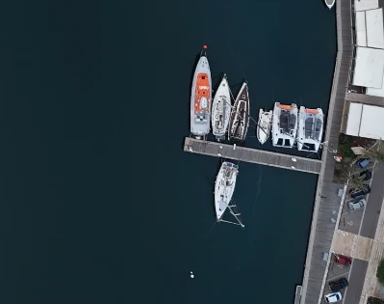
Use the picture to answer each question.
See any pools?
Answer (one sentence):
No, no pool can be seen from above.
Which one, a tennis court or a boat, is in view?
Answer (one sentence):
The image shows a boat.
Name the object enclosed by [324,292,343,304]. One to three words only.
vehicle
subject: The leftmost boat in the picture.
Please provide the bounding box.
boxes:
[190,51,214,139]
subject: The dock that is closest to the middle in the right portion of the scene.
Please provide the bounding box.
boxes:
[183,137,322,173]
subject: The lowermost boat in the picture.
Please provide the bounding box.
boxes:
[214,160,249,224]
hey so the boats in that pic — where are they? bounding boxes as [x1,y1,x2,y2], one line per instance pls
[272,102,308,147]
[190,51,214,139]
[230,82,265,141]
[297,106,336,154]
[211,75,248,140]
[255,108,272,144]
[214,160,249,224]
[323,0,335,15]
